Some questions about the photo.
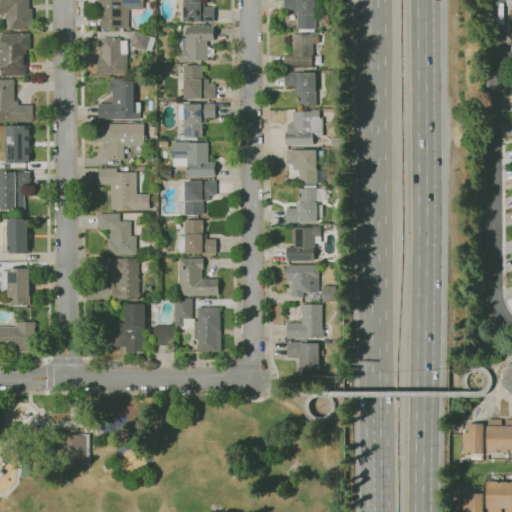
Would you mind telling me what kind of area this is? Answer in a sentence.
It's a residential area.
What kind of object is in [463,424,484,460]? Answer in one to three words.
building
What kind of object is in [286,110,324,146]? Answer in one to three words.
house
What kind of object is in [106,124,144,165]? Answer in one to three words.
house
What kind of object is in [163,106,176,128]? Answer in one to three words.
swimming pool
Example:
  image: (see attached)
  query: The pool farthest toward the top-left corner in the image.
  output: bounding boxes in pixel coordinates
[133,8,153,28]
